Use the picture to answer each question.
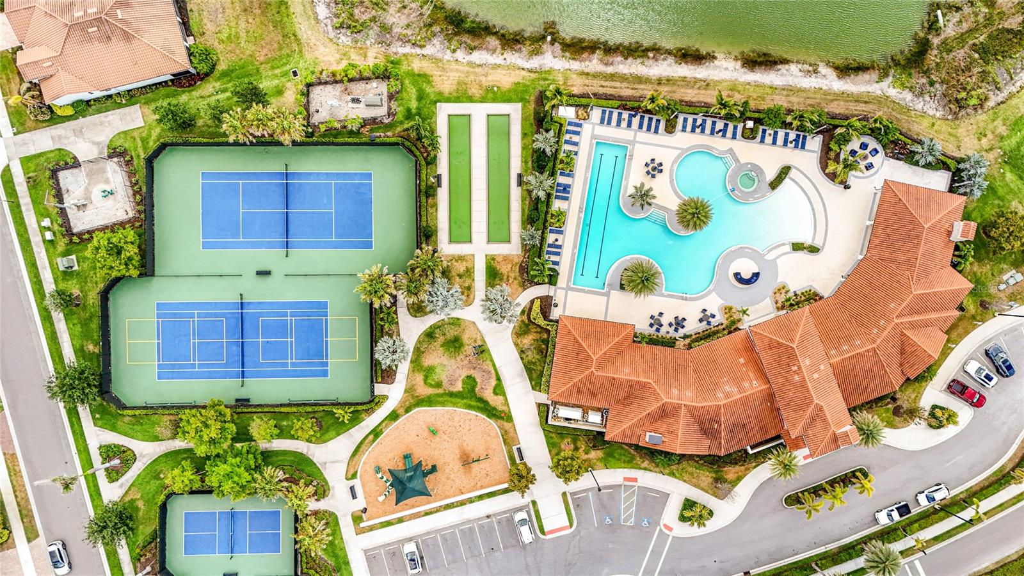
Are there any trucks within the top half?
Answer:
No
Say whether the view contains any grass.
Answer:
Yes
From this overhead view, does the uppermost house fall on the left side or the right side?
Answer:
left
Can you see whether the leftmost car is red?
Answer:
No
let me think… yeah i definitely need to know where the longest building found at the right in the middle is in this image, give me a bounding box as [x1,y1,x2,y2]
[547,179,975,458]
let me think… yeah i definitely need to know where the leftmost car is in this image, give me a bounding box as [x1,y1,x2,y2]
[48,540,71,574]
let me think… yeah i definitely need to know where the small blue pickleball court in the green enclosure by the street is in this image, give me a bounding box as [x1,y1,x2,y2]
[166,498,290,576]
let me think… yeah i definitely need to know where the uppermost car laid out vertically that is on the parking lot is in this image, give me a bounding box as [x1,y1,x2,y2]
[515,510,534,546]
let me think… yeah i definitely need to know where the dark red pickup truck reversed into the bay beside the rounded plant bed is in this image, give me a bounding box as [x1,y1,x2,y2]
[942,374,985,406]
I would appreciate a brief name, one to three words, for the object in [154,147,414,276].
tennis court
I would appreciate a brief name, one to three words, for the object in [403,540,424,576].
car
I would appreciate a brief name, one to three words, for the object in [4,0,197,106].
house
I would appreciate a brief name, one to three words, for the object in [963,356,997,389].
car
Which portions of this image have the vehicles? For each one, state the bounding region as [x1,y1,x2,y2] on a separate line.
[48,540,71,574]
[982,341,1014,378]
[515,510,534,546]
[403,540,424,576]
[913,481,949,504]
[942,374,985,406]
[963,356,997,389]
[872,496,915,524]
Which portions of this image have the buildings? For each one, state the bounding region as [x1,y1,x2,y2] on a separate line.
[4,0,197,106]
[547,179,975,458]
